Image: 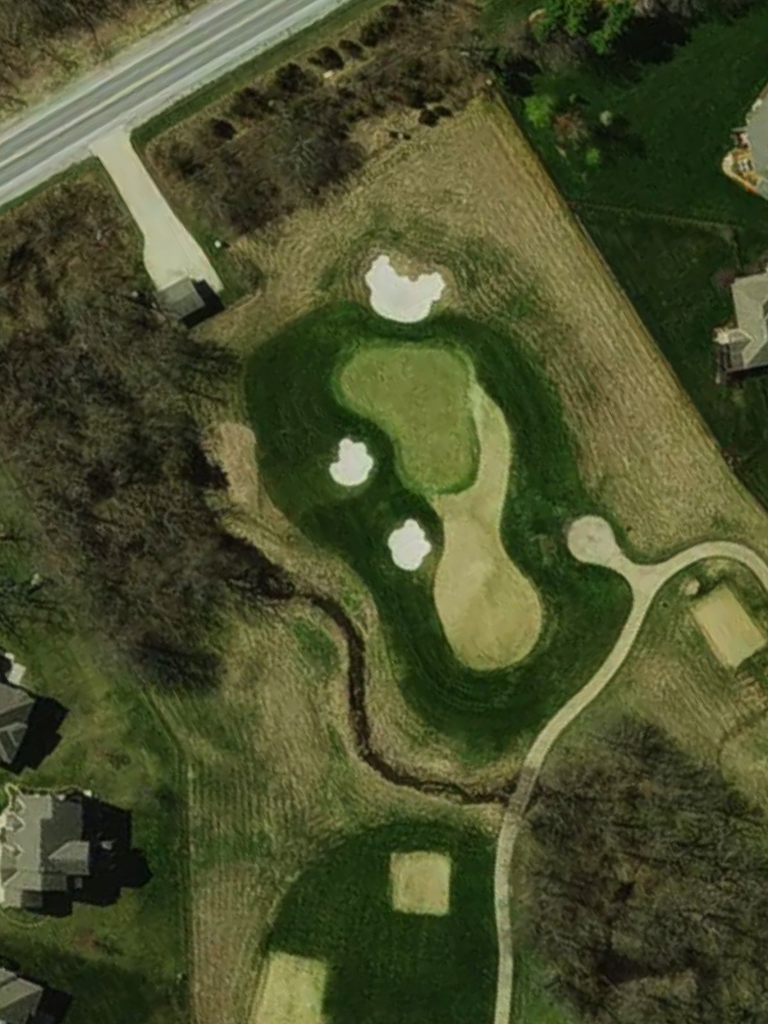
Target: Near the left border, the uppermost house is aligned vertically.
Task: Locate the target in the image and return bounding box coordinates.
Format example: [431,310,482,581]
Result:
[0,684,34,763]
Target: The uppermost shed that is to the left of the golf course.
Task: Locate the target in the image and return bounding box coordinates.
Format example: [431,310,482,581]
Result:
[157,277,203,322]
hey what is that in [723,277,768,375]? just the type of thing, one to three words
house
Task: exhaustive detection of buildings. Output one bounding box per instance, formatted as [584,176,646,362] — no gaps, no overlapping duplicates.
[734,82,768,199]
[0,794,109,908]
[0,960,43,1024]
[157,277,203,322]
[0,684,34,763]
[723,277,768,375]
